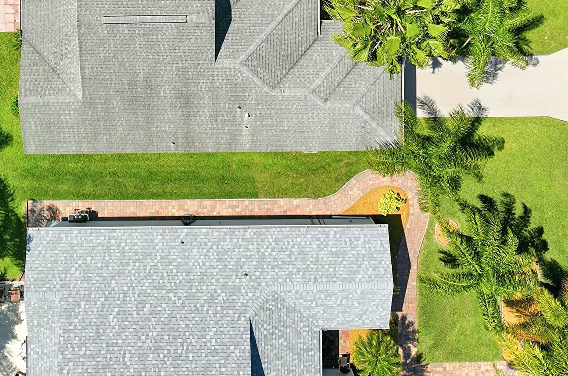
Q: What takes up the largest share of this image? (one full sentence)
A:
The bulk of the photo consists of buildings.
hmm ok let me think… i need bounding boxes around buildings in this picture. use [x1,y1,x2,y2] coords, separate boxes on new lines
[16,0,406,153]
[23,220,393,376]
